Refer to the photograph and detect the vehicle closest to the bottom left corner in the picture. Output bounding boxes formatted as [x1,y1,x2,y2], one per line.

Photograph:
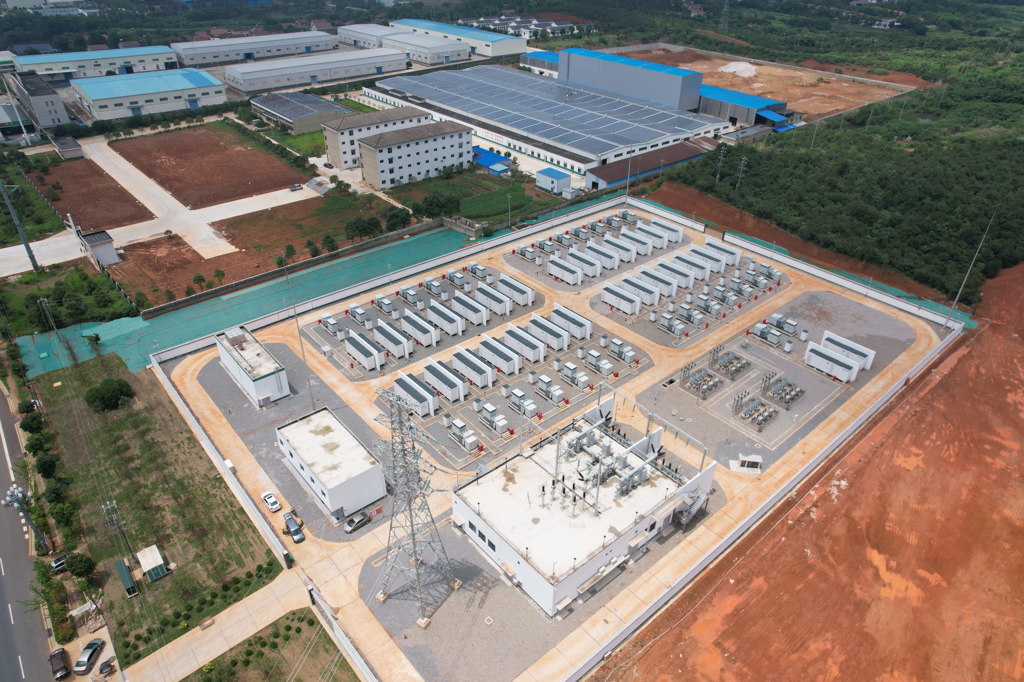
[45,645,71,680]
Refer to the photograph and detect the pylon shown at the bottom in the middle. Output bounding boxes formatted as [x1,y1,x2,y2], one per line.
[368,390,462,618]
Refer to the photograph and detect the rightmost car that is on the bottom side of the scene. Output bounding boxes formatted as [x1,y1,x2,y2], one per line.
[341,514,372,534]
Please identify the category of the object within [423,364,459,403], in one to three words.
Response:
shipping container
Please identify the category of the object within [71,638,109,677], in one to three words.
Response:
car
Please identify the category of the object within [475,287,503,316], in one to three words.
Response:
shipping container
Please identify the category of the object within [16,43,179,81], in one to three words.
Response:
building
